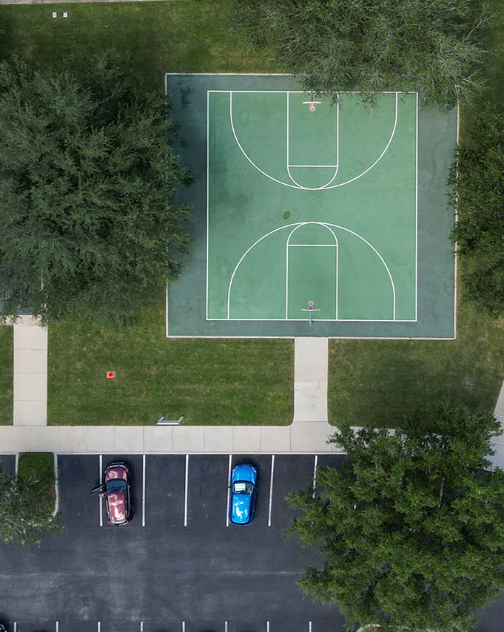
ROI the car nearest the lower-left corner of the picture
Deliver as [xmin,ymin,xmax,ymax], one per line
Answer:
[90,464,133,528]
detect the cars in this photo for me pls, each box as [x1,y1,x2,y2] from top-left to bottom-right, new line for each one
[229,467,258,527]
[90,464,133,528]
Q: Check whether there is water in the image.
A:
No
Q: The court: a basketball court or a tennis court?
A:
basketball court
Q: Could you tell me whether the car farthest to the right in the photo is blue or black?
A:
blue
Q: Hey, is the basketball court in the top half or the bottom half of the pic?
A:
top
